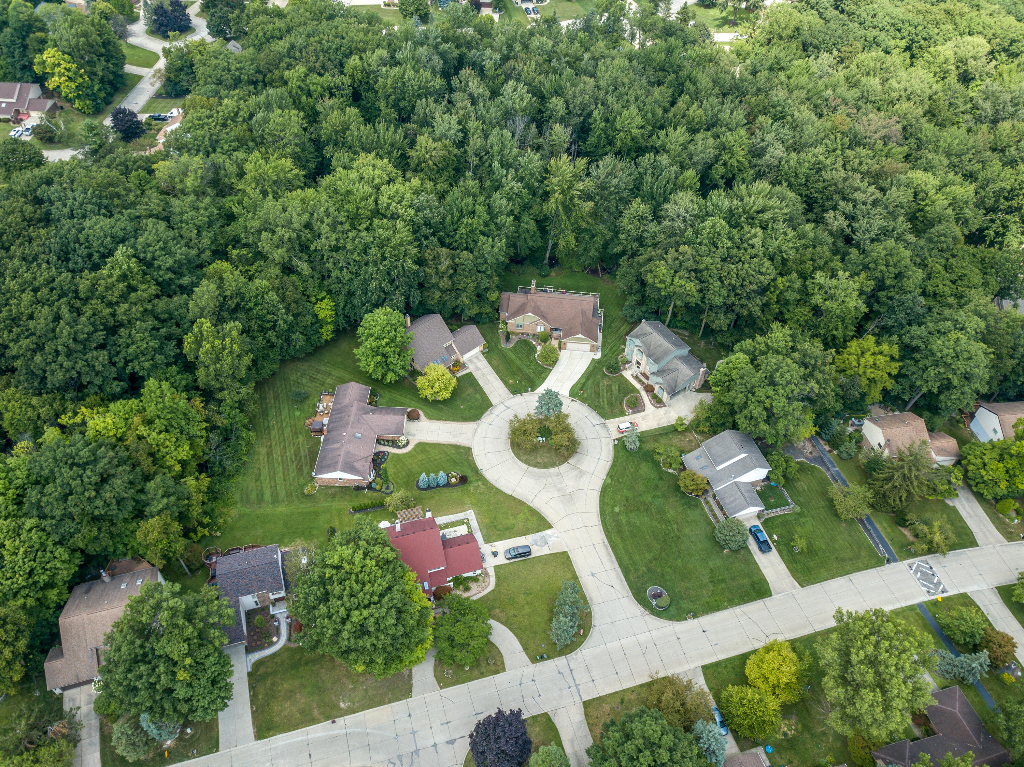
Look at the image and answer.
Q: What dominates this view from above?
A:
trees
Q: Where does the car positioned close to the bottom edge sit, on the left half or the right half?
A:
right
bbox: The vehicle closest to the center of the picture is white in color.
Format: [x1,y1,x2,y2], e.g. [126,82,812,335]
[618,421,639,433]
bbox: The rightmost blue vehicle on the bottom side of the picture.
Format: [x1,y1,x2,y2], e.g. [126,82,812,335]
[751,524,774,553]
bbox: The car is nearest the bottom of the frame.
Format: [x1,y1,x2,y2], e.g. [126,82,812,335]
[708,704,731,737]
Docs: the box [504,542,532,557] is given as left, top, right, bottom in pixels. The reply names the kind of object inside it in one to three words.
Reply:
vehicle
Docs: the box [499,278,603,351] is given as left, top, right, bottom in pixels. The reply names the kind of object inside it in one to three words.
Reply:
house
